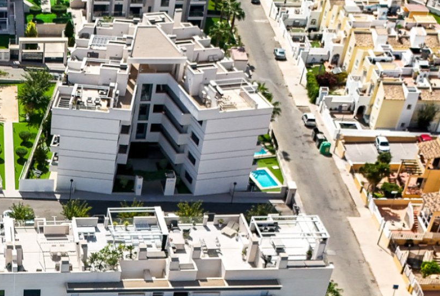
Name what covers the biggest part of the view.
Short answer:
buildings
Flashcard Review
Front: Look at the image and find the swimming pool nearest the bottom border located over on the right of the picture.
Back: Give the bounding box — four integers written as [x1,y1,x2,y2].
[255,167,281,186]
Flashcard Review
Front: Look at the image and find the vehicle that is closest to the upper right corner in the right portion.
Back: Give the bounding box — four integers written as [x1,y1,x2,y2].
[373,136,394,151]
